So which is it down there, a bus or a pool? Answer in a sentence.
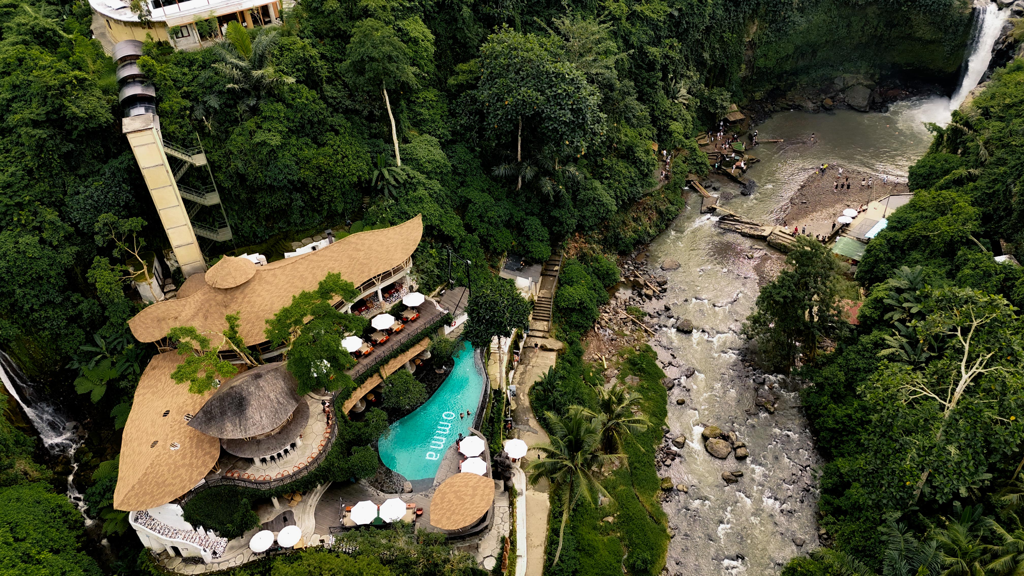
This aerial view contains a pool.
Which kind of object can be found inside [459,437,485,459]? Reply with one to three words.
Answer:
umbrella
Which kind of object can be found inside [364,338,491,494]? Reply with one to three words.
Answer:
swimming pool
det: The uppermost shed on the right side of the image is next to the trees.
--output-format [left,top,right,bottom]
[722,104,746,133]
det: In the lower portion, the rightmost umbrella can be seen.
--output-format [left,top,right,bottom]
[503,439,528,461]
